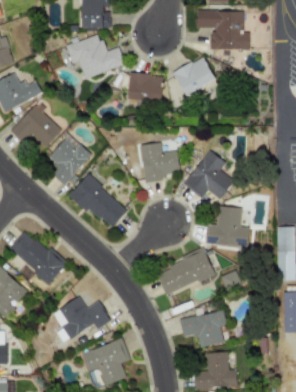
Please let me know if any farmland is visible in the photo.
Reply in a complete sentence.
No, farmland can't be seen anywhere here.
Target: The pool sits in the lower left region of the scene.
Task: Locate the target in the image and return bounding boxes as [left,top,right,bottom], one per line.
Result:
[62,364,80,383]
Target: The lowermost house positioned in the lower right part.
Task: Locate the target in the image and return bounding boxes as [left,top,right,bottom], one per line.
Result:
[194,352,238,391]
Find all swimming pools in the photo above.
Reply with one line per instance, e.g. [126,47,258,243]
[232,135,246,162]
[194,287,216,302]
[234,301,249,321]
[254,200,266,224]
[246,54,266,72]
[100,106,119,116]
[60,72,78,86]
[75,126,96,144]
[50,2,62,27]
[62,364,80,383]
